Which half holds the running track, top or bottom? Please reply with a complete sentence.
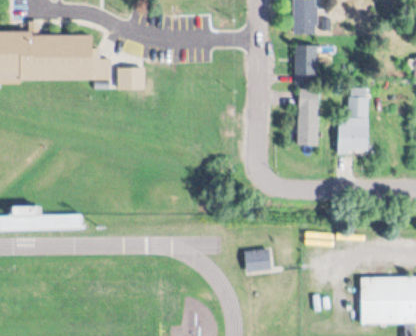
The running track is in the bottom half of the image.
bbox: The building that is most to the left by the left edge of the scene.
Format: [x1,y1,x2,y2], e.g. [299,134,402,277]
[0,20,111,90]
